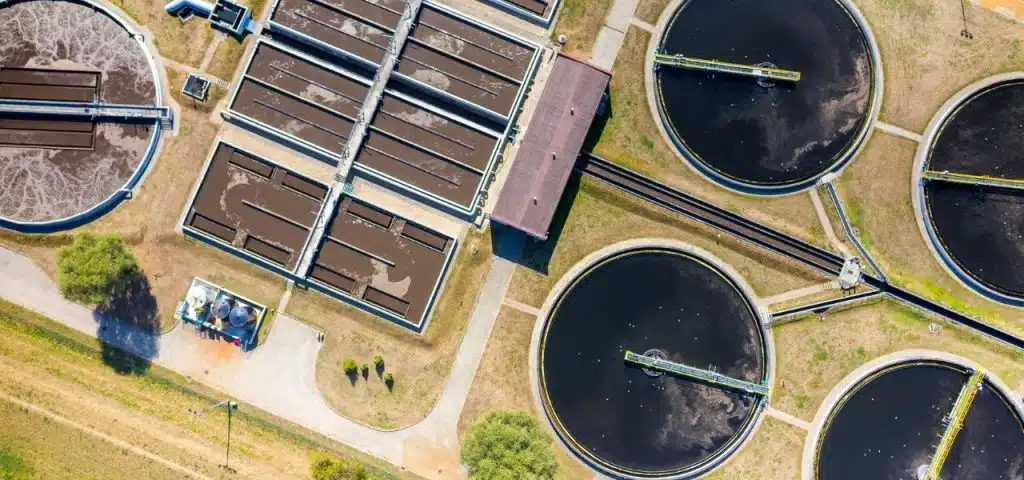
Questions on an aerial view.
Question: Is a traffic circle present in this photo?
No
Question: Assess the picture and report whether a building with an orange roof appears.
No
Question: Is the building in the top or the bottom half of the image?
top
